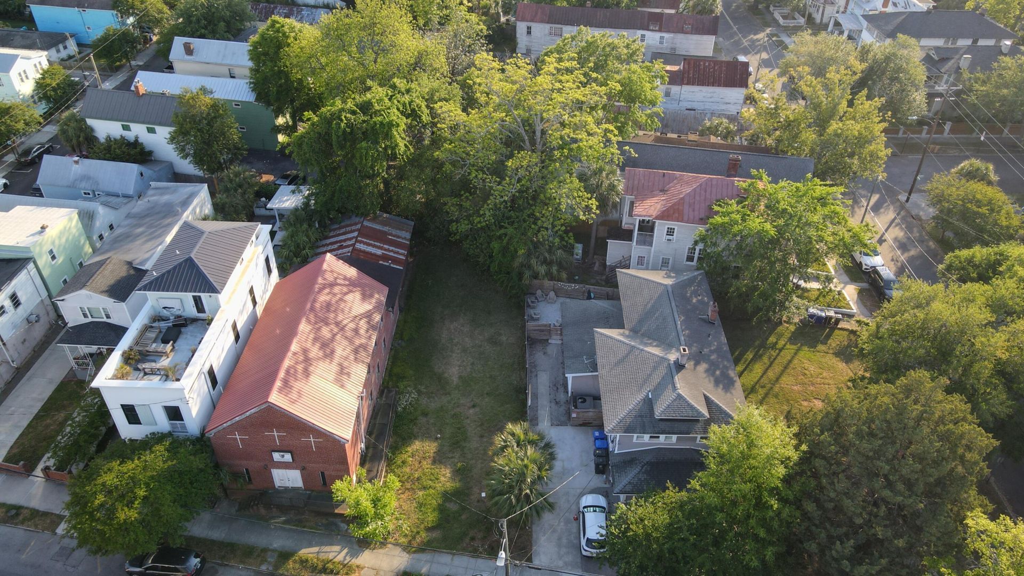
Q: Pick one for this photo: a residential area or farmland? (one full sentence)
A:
The area seen from above is a residential area.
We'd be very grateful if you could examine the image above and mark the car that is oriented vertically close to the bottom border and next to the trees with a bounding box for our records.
[575,498,609,561]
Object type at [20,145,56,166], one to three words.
car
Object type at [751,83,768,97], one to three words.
car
